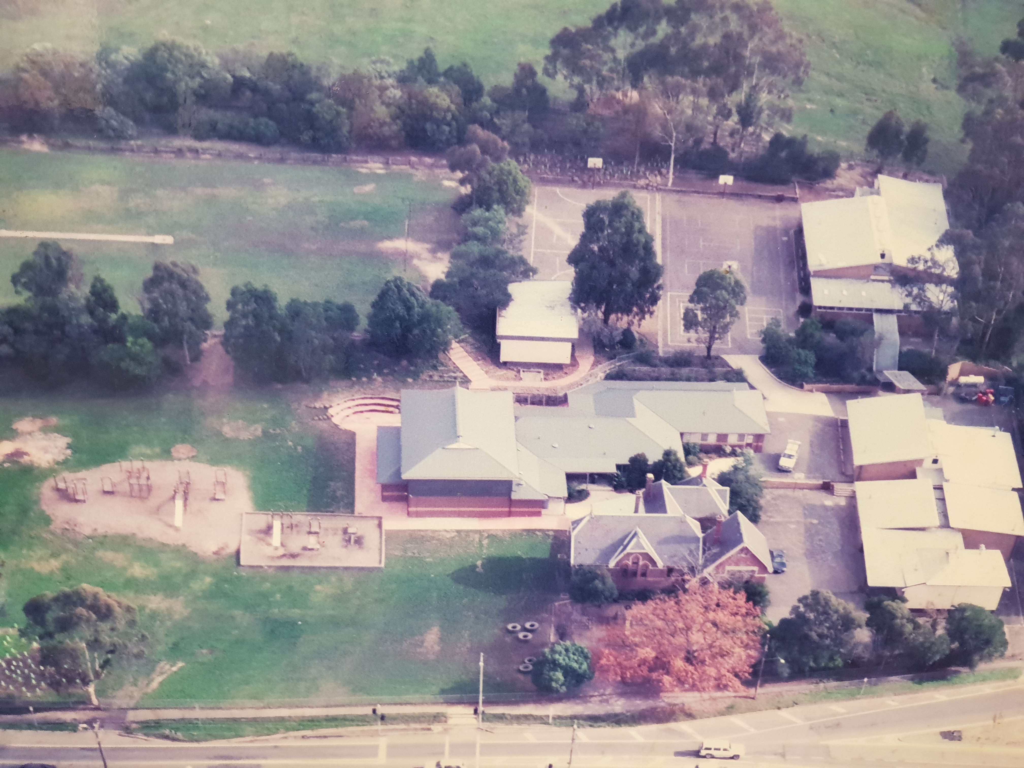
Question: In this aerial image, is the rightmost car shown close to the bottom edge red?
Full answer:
No, the rightmost car shown close to the bottom edge is actually white.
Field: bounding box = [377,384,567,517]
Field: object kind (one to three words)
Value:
building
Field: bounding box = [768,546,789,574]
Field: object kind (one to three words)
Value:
car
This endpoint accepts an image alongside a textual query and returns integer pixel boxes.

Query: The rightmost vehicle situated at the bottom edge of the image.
[697,735,745,760]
